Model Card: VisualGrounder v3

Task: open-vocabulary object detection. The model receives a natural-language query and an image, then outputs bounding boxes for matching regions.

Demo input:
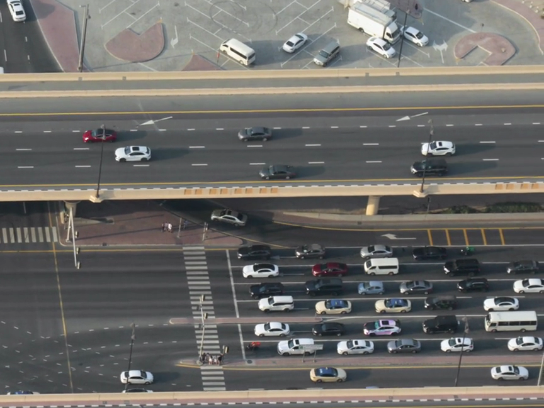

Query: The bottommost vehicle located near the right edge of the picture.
[491,366,529,382]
